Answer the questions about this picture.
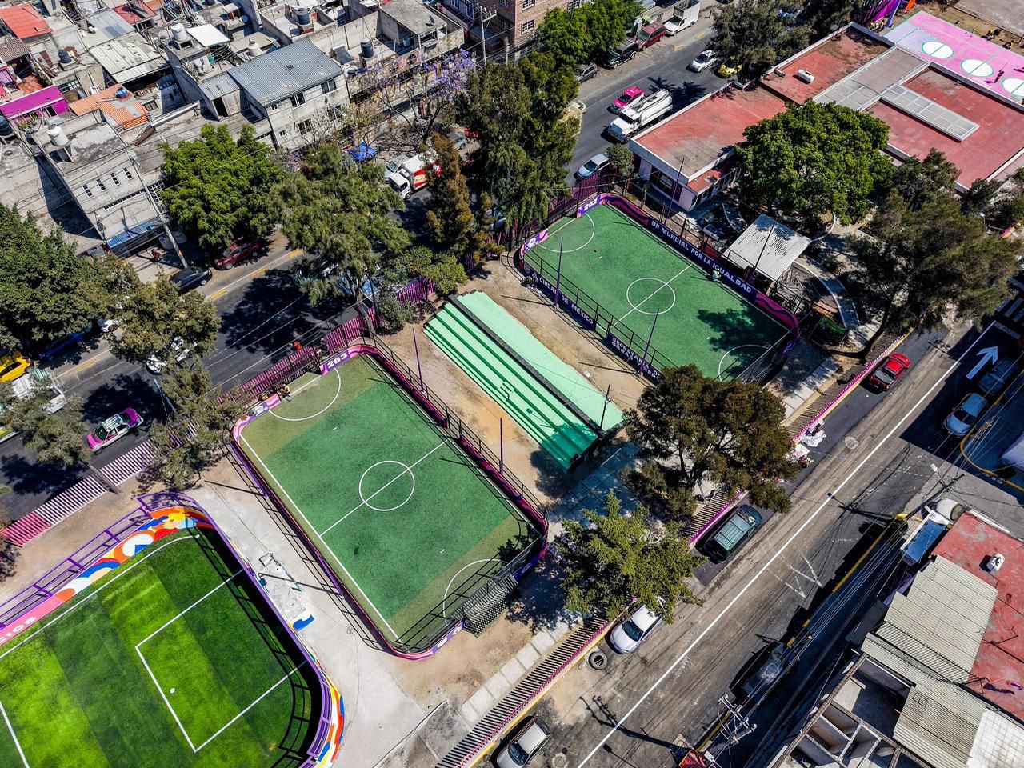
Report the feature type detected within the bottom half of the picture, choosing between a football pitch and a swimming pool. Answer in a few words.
football pitch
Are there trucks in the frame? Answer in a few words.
Yes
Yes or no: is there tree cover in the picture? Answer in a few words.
Yes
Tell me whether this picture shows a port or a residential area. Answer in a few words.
residential area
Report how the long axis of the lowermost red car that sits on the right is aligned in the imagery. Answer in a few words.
diagonally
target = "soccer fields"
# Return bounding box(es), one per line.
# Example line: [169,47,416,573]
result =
[0,526,329,768]
[236,351,551,660]
[518,197,793,400]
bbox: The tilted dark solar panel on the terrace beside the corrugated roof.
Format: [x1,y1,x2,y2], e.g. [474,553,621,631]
[326,40,351,64]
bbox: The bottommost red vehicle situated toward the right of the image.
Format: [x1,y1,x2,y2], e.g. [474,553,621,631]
[866,351,913,394]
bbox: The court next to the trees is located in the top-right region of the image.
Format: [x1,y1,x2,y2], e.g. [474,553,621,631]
[885,10,1024,105]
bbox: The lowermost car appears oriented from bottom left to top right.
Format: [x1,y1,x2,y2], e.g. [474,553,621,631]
[487,711,553,768]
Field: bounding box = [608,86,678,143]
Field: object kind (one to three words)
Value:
truck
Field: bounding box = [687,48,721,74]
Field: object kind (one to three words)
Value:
car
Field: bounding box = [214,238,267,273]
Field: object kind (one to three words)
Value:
car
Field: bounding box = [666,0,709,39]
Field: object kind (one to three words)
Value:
truck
